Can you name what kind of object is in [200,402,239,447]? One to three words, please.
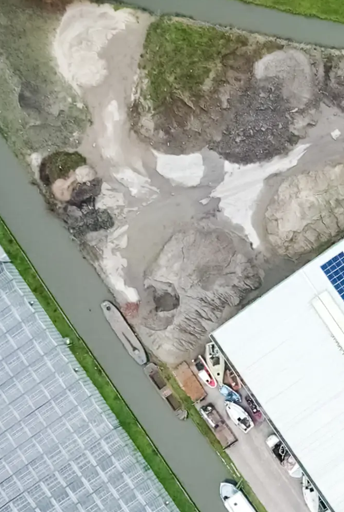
trailer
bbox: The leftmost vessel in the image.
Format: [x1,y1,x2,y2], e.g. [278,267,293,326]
[100,301,150,366]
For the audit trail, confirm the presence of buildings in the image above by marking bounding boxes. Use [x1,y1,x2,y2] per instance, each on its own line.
[0,261,182,512]
[206,239,344,512]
